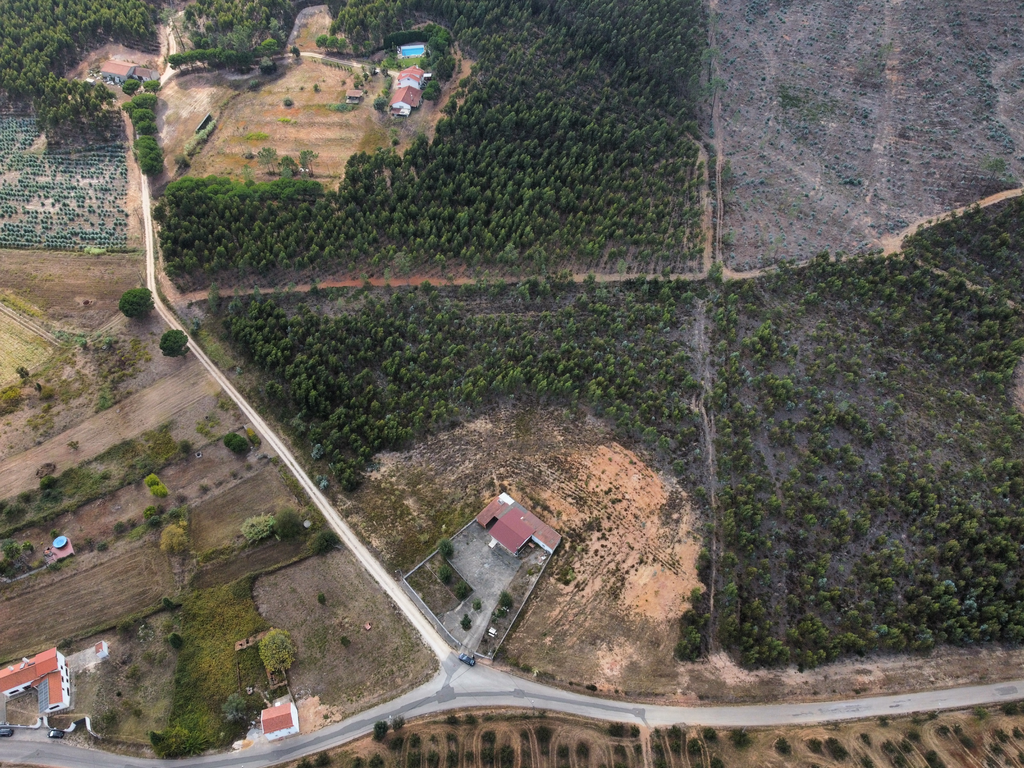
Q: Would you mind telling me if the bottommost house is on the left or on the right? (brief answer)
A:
left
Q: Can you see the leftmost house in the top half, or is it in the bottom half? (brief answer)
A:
bottom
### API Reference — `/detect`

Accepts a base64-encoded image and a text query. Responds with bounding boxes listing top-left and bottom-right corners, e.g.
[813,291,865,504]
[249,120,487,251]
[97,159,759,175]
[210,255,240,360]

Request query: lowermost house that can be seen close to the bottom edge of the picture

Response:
[261,702,298,738]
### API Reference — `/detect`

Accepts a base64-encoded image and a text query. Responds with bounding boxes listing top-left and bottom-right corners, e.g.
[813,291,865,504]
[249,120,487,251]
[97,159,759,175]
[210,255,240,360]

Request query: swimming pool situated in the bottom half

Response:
[52,535,69,550]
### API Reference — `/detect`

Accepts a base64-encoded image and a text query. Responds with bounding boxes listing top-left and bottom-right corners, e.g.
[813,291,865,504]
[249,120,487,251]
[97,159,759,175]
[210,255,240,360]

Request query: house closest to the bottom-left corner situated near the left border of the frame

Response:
[0,647,69,716]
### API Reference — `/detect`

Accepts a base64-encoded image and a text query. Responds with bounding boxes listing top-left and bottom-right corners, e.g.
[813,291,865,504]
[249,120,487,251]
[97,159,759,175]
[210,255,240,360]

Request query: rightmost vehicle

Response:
[457,653,476,668]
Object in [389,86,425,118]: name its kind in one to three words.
house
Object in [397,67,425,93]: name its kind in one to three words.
building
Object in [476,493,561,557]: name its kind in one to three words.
building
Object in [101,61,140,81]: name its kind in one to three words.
barn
